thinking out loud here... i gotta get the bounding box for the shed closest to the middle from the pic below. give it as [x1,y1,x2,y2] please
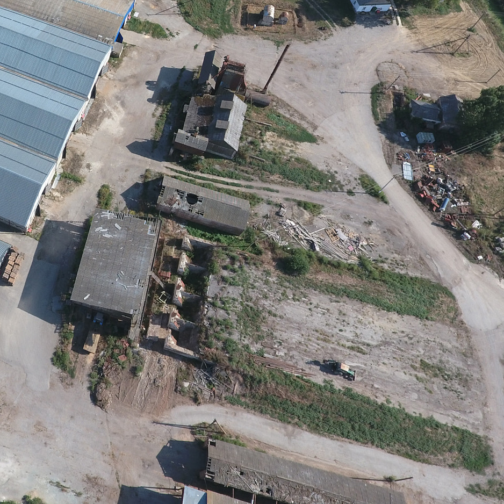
[155,176,250,235]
